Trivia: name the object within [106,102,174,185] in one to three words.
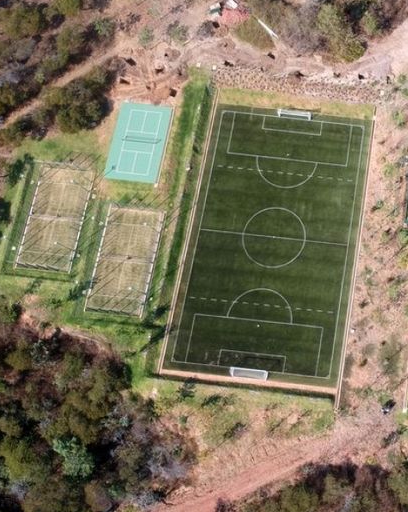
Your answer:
sports court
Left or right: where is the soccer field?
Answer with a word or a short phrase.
right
